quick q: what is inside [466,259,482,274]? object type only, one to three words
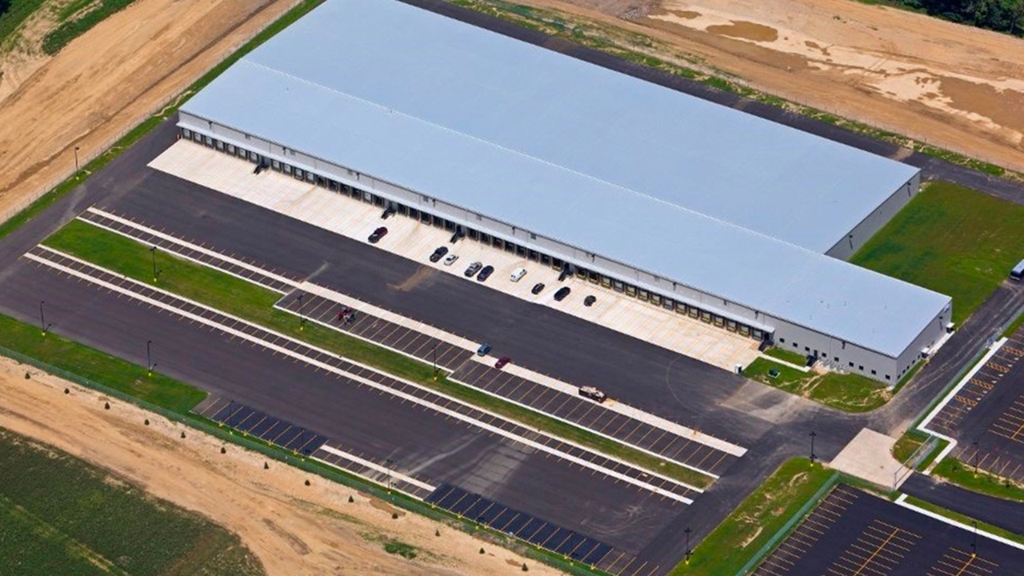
car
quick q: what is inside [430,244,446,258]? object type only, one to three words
car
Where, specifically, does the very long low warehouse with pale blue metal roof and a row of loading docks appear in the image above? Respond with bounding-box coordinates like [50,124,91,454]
[176,0,958,384]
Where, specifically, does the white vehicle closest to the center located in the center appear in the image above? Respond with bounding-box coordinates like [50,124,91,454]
[510,267,525,280]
